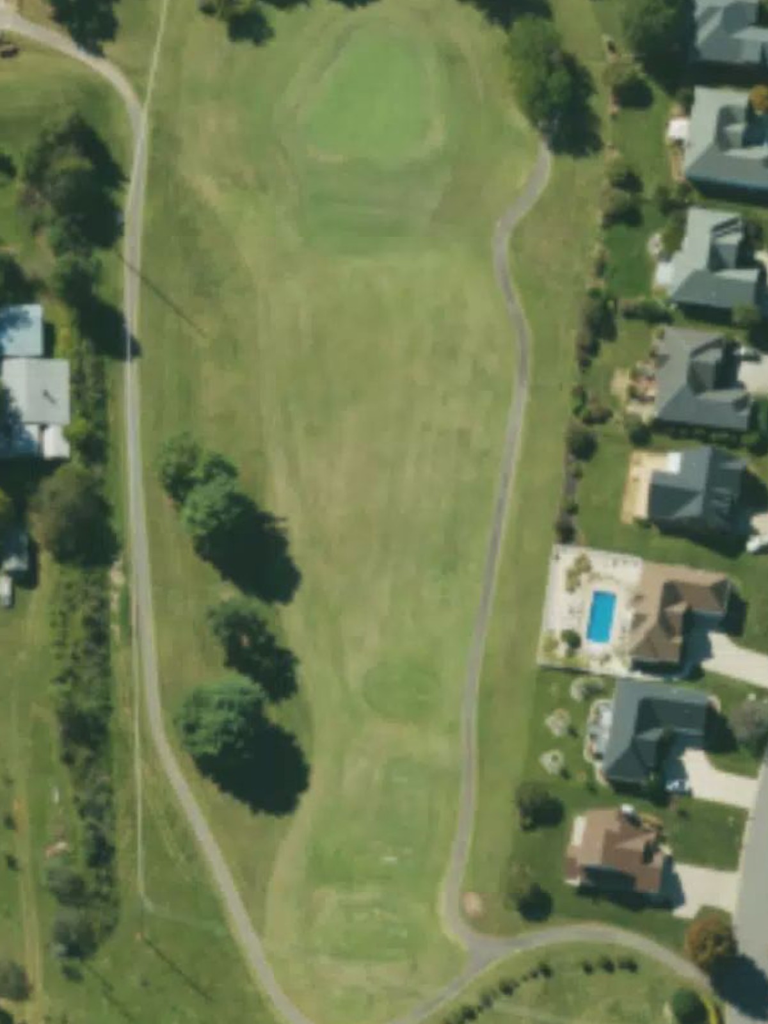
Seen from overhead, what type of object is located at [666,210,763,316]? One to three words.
house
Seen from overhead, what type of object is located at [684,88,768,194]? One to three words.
house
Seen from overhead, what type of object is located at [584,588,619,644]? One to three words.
swimming pool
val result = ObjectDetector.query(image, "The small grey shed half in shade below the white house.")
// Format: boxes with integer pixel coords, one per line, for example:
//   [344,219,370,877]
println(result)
[0,532,30,574]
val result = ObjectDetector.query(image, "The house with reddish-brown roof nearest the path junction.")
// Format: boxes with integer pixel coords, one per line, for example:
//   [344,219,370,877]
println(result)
[578,807,661,902]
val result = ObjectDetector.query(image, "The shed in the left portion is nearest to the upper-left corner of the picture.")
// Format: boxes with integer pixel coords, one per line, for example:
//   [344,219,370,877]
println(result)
[0,308,43,359]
